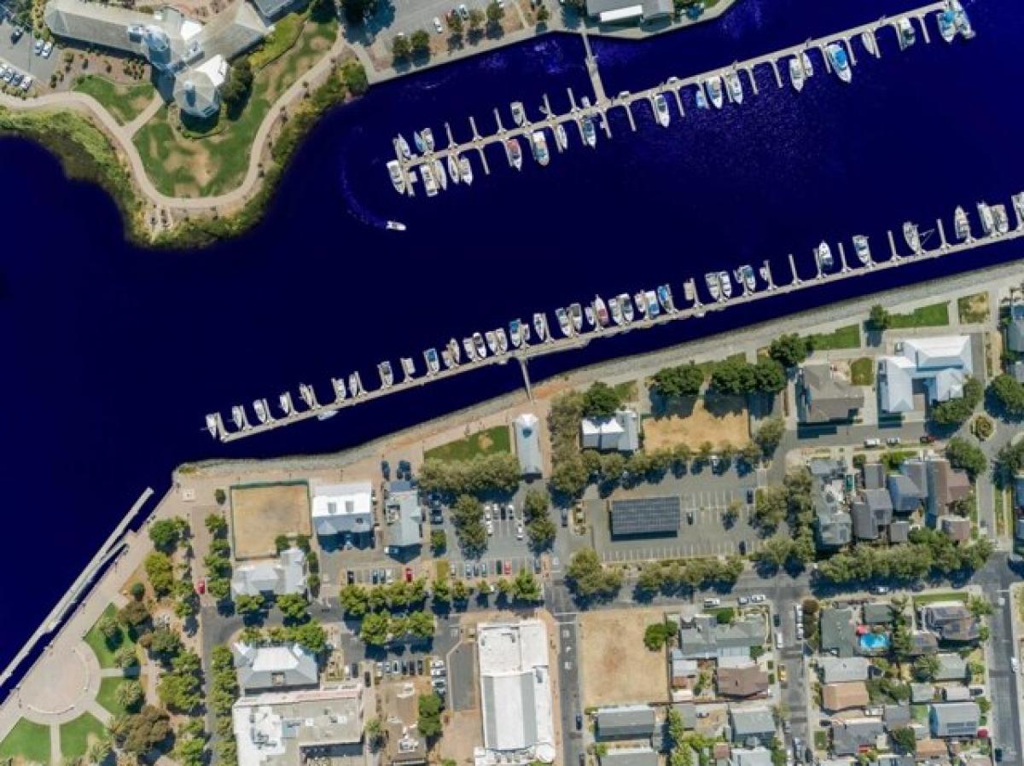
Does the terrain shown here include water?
Yes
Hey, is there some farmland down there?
No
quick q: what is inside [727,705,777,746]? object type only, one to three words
building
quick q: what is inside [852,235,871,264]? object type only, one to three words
boat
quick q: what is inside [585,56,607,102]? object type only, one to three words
pier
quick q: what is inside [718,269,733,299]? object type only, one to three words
boat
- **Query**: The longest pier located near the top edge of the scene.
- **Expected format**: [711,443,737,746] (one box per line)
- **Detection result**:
[393,1,957,195]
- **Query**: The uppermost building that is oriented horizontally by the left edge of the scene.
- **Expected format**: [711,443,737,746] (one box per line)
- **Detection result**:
[44,0,278,72]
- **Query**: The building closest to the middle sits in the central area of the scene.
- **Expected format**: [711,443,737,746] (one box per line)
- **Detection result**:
[515,413,541,475]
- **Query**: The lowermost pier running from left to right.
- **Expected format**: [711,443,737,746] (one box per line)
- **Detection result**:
[216,196,1024,442]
